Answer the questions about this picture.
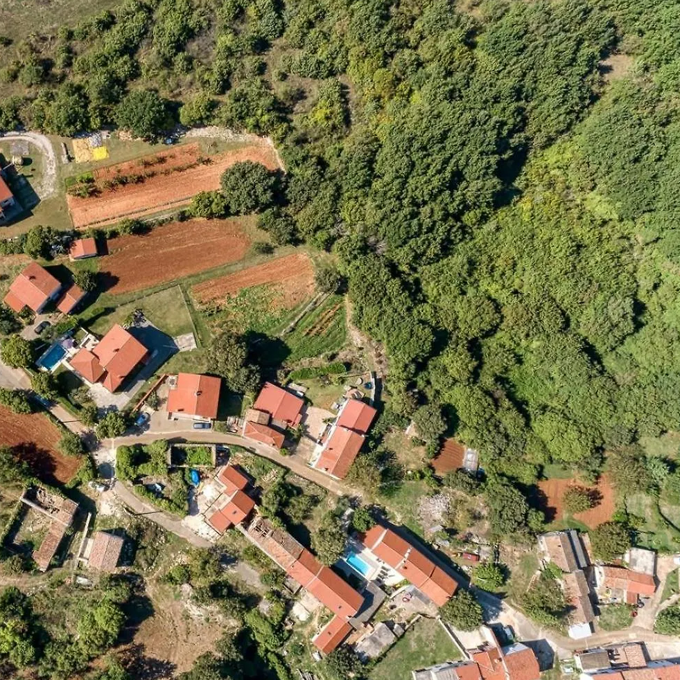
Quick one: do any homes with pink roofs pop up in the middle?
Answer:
Yes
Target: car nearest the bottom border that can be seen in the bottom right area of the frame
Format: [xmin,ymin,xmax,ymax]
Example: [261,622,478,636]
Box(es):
[502,623,518,644]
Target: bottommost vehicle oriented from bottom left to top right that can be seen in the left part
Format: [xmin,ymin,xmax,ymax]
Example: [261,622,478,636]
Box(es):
[134,410,150,428]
